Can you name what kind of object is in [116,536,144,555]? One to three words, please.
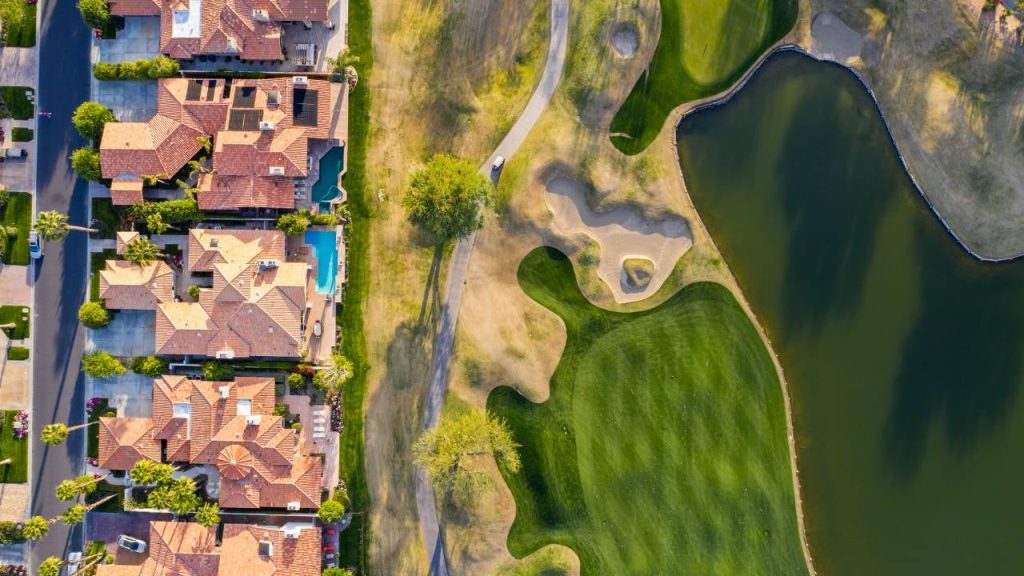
car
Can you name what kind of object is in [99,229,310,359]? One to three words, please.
house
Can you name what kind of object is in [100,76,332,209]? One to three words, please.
house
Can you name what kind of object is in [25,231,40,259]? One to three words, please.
car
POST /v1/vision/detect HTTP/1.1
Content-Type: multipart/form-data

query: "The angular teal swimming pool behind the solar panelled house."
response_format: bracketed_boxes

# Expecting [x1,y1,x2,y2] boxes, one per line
[311,145,345,213]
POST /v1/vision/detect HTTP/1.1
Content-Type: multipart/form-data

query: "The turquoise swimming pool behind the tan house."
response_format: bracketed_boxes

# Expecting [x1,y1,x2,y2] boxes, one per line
[304,229,338,295]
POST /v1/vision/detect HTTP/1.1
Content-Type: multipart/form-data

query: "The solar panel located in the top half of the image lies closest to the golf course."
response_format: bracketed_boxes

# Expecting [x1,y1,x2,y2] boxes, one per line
[292,88,319,127]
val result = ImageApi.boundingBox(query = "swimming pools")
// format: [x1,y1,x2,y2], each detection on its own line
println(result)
[304,229,338,295]
[311,145,345,213]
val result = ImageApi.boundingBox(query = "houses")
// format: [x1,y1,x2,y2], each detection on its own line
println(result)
[96,518,324,576]
[99,374,323,510]
[100,76,332,209]
[109,0,330,63]
[99,229,310,359]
